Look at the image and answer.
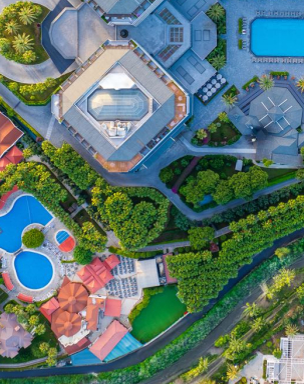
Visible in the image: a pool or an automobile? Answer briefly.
pool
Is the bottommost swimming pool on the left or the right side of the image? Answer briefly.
left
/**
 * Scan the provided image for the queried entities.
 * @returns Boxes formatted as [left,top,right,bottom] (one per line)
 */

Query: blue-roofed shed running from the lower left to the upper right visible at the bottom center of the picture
[104,329,144,362]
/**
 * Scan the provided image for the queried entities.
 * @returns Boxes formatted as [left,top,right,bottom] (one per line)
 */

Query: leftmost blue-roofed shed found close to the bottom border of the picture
[71,349,104,366]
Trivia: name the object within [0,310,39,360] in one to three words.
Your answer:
house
